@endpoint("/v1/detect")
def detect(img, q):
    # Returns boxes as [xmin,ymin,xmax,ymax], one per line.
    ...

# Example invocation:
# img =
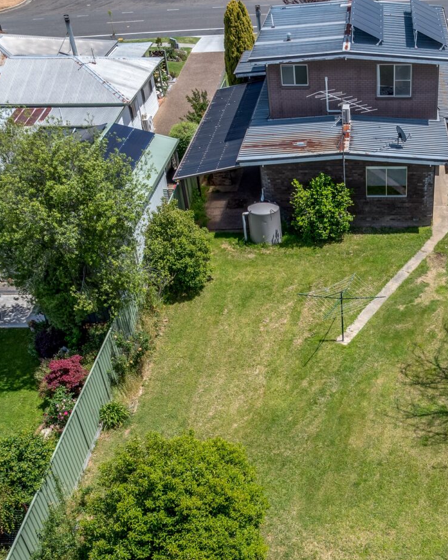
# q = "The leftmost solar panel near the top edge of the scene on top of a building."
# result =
[351,0,384,43]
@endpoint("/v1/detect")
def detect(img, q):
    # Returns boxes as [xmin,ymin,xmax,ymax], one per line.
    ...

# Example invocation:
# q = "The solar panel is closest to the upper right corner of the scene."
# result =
[410,0,446,48]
